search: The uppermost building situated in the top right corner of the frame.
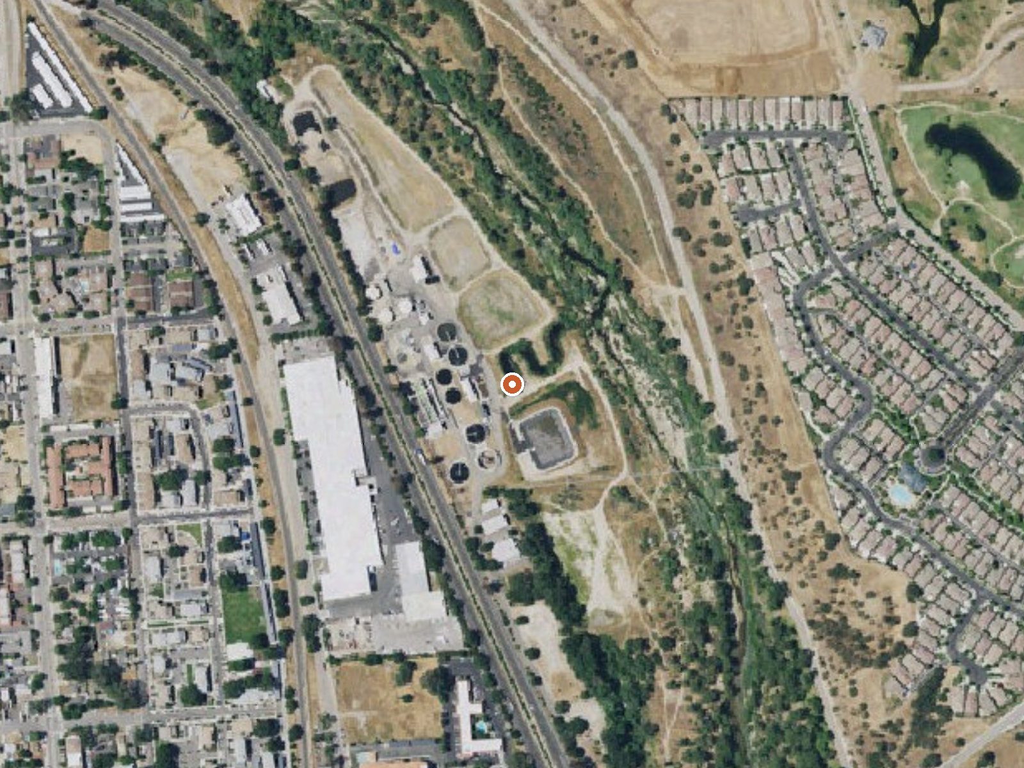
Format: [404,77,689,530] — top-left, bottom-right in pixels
[862,24,888,49]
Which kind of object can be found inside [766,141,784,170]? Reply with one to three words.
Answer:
house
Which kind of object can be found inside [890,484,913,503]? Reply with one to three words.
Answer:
swimming pool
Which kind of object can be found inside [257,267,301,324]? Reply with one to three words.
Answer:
building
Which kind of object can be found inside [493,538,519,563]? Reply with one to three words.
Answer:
shed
